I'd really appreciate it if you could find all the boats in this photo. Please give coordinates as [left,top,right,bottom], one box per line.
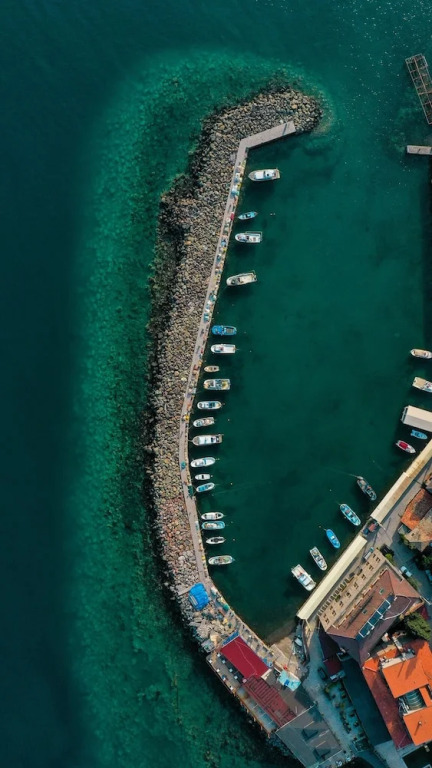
[238,211,257,220]
[223,270,259,285]
[410,349,432,359]
[211,344,237,353]
[207,555,234,566]
[189,457,216,467]
[243,168,289,181]
[210,326,238,334]
[190,434,226,446]
[340,503,364,530]
[201,520,225,530]
[308,546,328,572]
[204,366,220,372]
[190,416,216,428]
[236,231,264,242]
[324,528,342,548]
[410,429,428,440]
[410,379,432,392]
[394,440,416,453]
[195,482,216,493]
[357,478,377,501]
[290,562,314,590]
[201,379,230,390]
[204,537,228,544]
[195,473,212,480]
[197,400,224,410]
[196,511,224,520]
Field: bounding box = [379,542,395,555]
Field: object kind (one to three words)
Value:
vehicle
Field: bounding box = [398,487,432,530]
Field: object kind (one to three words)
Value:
house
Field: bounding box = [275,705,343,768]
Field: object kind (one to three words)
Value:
building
